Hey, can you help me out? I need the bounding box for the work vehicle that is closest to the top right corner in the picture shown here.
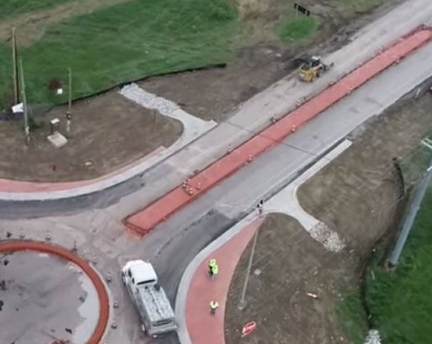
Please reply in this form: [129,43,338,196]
[301,54,334,84]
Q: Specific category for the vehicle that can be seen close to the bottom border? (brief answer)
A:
truck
